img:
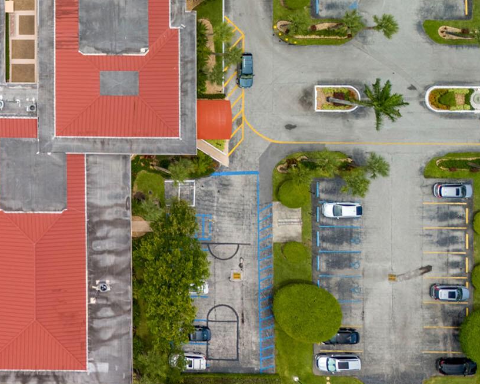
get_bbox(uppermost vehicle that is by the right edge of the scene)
[429,181,471,199]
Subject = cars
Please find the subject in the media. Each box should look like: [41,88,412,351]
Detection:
[314,351,361,373]
[193,323,215,340]
[434,355,475,376]
[427,283,468,303]
[176,351,208,370]
[429,181,471,199]
[319,200,362,219]
[235,52,253,87]
[321,326,360,343]
[189,278,211,294]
